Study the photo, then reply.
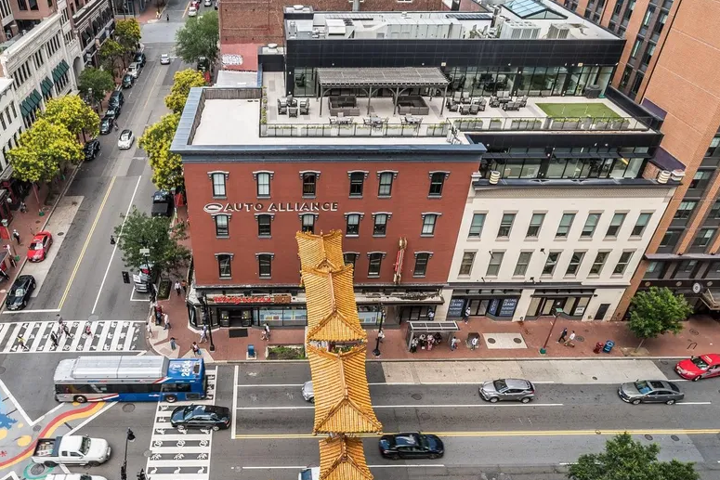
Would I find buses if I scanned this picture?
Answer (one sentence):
Yes, the picture does show a bus.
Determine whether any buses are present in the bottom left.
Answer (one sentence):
Yes, the scene does show a bus in the bottom left.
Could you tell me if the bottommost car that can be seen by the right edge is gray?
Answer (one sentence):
Yes, gray is the color of the bottommost car that can be seen by the right edge.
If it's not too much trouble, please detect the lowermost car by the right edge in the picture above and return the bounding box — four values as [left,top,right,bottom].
[618,377,686,404]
